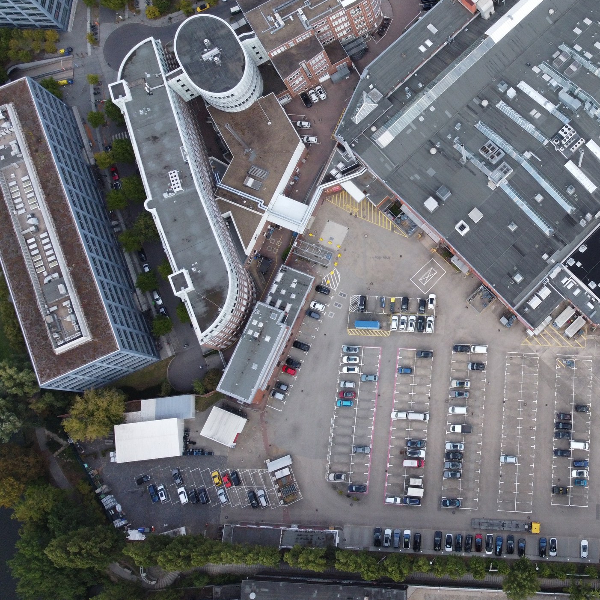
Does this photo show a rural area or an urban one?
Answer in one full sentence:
The land in this view is best described as urban.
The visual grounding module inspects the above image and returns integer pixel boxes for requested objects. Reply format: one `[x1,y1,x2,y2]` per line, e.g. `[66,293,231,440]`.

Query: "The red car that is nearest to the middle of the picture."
[281,364,298,376]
